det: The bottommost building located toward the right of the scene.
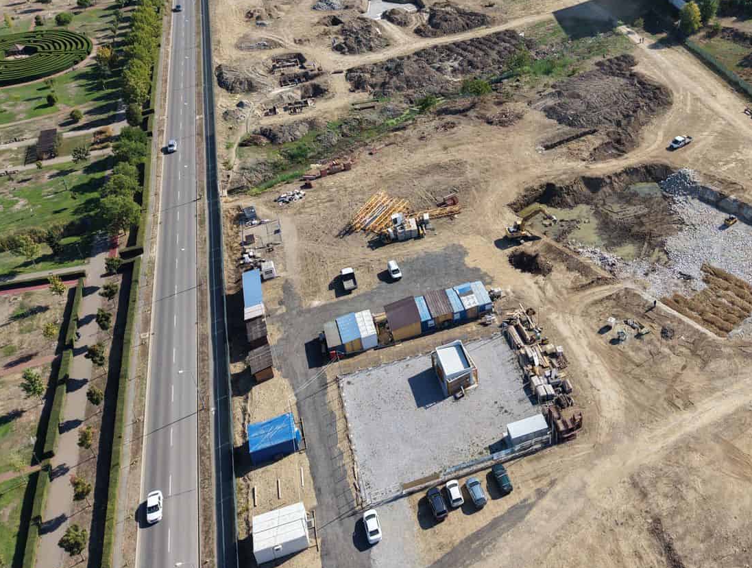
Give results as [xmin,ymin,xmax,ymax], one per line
[435,341,479,399]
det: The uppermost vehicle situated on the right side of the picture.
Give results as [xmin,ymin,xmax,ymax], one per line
[667,132,695,149]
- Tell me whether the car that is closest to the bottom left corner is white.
Yes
